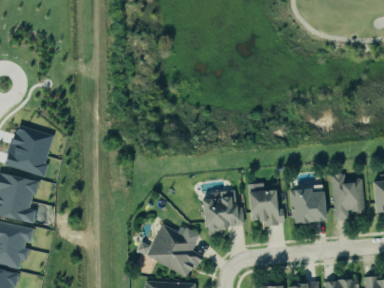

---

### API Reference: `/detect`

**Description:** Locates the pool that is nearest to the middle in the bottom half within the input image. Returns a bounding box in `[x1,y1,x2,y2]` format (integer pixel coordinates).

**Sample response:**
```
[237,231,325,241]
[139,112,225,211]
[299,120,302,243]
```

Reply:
[195,179,232,201]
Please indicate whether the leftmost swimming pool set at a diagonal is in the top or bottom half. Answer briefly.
bottom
